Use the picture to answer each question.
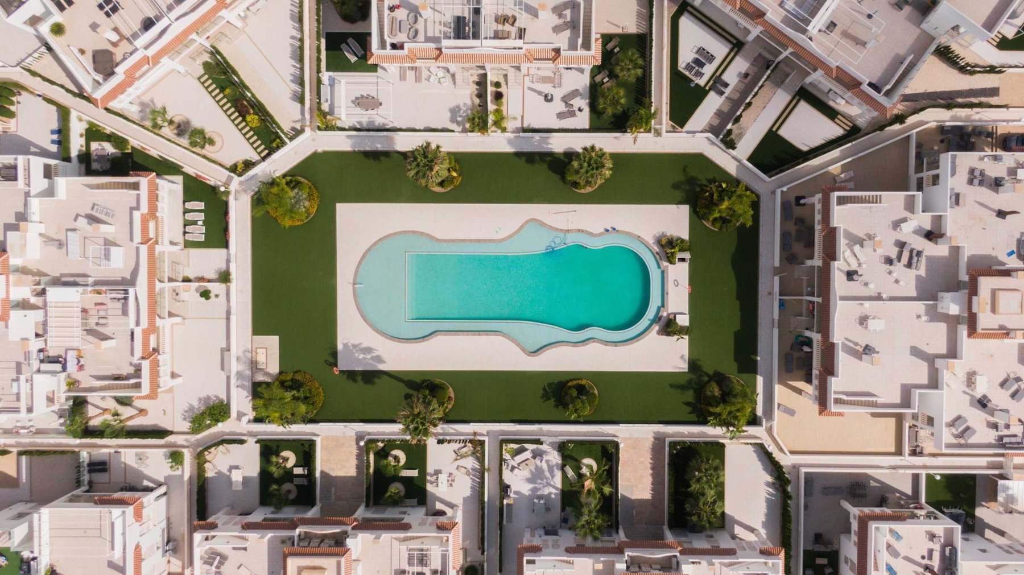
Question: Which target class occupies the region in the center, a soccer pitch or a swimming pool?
swimming pool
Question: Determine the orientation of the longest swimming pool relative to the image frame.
from side to side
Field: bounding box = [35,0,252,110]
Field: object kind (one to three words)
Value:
house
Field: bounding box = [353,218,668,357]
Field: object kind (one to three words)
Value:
swimming pool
